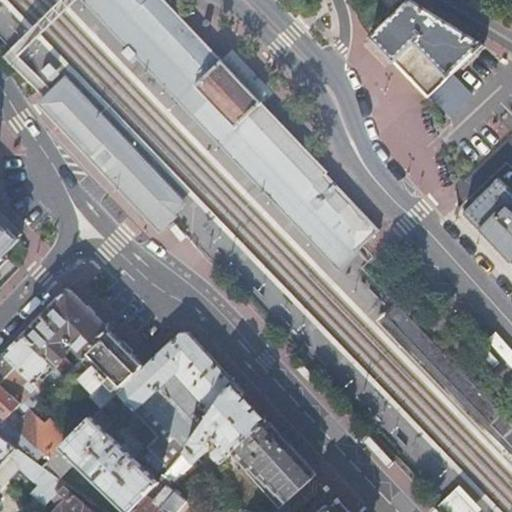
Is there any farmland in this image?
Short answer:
No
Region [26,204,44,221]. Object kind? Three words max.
car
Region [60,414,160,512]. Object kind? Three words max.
building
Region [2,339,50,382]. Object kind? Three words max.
house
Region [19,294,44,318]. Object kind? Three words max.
vehicle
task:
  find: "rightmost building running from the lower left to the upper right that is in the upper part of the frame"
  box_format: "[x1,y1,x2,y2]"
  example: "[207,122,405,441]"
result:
[464,177,508,226]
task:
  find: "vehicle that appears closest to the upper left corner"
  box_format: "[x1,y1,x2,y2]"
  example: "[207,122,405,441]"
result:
[24,119,42,138]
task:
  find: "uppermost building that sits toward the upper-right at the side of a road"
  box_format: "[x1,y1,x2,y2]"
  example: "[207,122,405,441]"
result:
[366,0,485,98]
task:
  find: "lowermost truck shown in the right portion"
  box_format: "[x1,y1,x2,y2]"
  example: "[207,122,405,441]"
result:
[488,336,512,368]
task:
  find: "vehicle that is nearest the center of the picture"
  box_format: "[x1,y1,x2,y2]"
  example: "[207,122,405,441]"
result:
[148,241,166,258]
